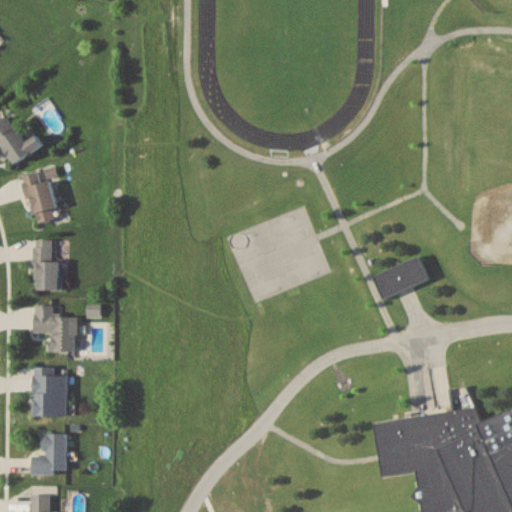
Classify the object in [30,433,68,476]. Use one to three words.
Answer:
house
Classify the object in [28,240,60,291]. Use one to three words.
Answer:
house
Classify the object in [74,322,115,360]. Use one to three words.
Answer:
swimming pool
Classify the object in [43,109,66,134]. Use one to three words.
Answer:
swimming pool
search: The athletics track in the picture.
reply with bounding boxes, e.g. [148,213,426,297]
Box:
[200,0,374,150]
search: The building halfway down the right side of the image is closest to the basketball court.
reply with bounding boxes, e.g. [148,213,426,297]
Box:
[373,256,429,301]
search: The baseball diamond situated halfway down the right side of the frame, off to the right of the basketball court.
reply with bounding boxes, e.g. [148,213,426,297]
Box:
[470,184,512,266]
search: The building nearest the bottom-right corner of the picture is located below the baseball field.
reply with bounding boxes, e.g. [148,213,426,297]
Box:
[372,406,512,512]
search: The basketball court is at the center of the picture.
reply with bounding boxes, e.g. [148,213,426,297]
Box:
[227,206,331,302]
